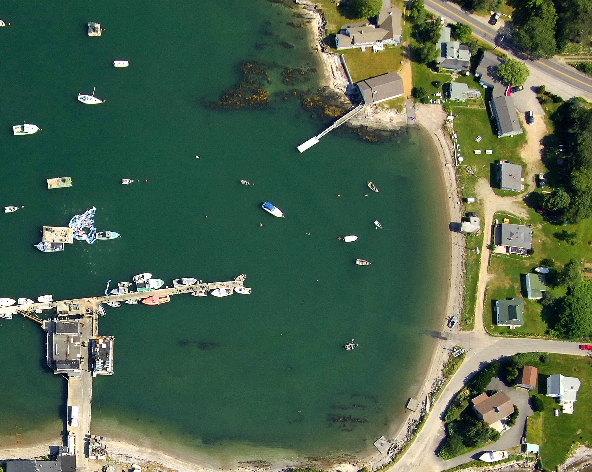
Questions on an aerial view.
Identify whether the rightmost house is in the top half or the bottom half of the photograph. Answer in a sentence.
The rightmost house is in the bottom half of the image.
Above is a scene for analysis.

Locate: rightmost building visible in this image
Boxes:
[543,374,581,414]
